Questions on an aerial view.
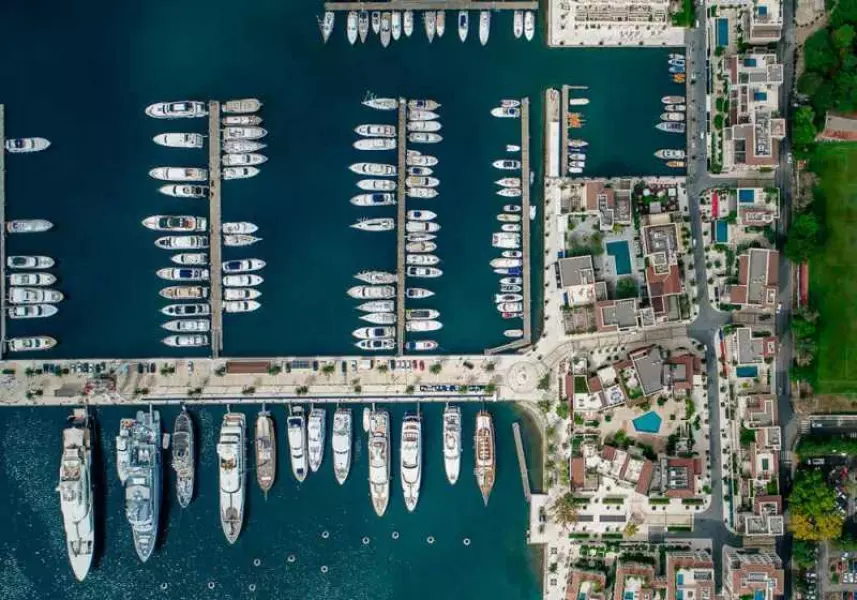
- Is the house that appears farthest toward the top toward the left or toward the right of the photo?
right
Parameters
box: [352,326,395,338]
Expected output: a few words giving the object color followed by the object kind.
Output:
white boat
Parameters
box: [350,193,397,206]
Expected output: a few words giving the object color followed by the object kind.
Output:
white boat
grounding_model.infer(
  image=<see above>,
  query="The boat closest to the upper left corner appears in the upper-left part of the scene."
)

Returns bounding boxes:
[8,136,49,151]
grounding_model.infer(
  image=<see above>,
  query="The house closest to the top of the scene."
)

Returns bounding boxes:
[739,0,784,44]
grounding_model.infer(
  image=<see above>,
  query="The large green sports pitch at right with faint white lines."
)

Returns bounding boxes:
[812,143,857,393]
